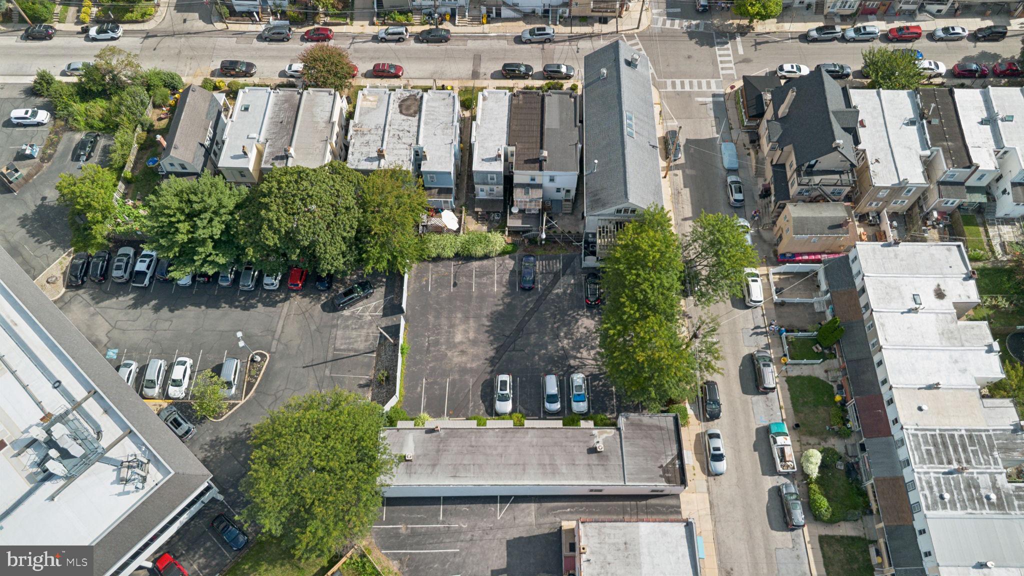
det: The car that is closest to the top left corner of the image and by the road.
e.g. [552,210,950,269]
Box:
[23,24,58,41]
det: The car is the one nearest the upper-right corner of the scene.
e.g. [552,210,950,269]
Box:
[973,25,1010,42]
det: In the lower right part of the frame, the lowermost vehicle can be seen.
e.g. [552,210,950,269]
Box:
[776,483,807,529]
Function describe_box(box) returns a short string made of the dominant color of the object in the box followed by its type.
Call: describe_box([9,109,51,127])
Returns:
white car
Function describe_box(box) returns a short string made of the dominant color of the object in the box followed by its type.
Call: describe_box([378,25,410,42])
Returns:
gray car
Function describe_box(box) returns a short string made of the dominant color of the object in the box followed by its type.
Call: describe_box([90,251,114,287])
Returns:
black car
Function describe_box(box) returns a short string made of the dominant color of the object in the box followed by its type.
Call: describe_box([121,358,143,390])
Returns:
gray car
